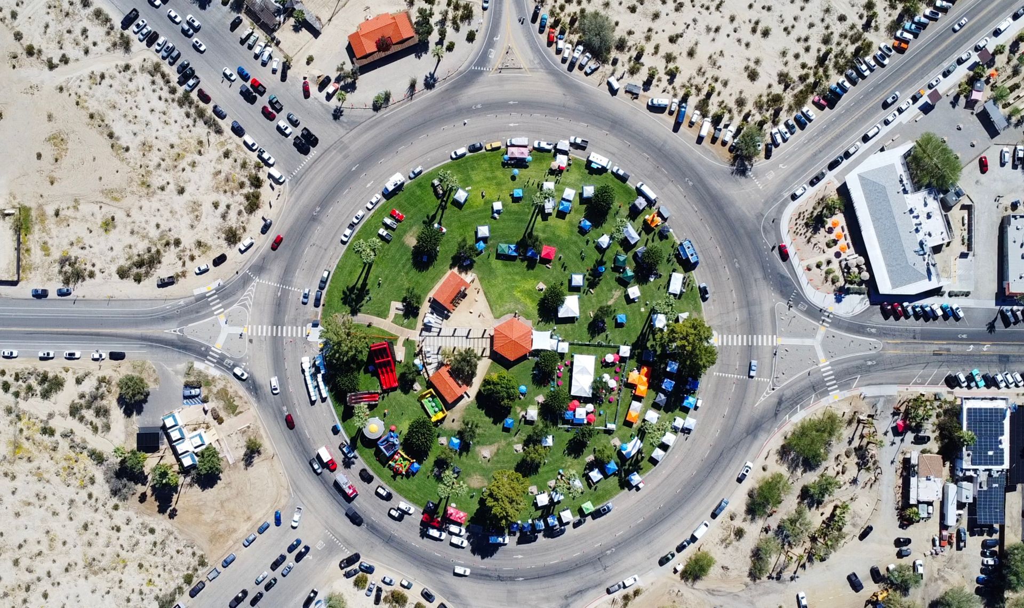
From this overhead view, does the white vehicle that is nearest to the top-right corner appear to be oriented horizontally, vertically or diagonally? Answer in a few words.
diagonally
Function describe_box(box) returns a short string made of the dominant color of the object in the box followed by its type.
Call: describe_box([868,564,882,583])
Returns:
black car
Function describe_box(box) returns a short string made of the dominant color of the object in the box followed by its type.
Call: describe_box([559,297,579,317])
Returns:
white tent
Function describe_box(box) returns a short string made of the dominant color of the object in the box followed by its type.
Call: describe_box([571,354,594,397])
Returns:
white tent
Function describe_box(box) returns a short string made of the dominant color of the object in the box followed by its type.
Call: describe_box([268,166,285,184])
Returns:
white vehicle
